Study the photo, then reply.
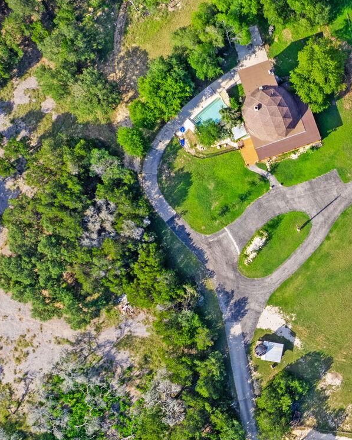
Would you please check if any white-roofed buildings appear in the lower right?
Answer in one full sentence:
Yes, I can see a white-roofed building in the lower right.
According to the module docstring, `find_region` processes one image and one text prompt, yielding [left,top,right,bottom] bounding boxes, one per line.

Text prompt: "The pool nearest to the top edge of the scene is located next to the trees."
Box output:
[186,91,234,132]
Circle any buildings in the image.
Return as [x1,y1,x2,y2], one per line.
[260,340,286,362]
[238,60,323,164]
